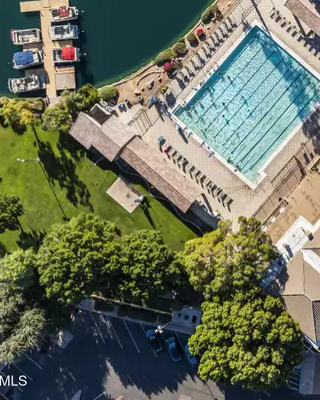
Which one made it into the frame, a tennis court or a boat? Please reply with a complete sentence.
The one in the frame is a boat.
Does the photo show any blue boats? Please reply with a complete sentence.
Yes, there's a blue boat down there.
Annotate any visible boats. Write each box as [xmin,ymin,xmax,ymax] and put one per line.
[9,29,41,44]
[49,25,85,40]
[50,47,87,62]
[5,51,43,69]
[47,6,84,22]
[0,76,43,94]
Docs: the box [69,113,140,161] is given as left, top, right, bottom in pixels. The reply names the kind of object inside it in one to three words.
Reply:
building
